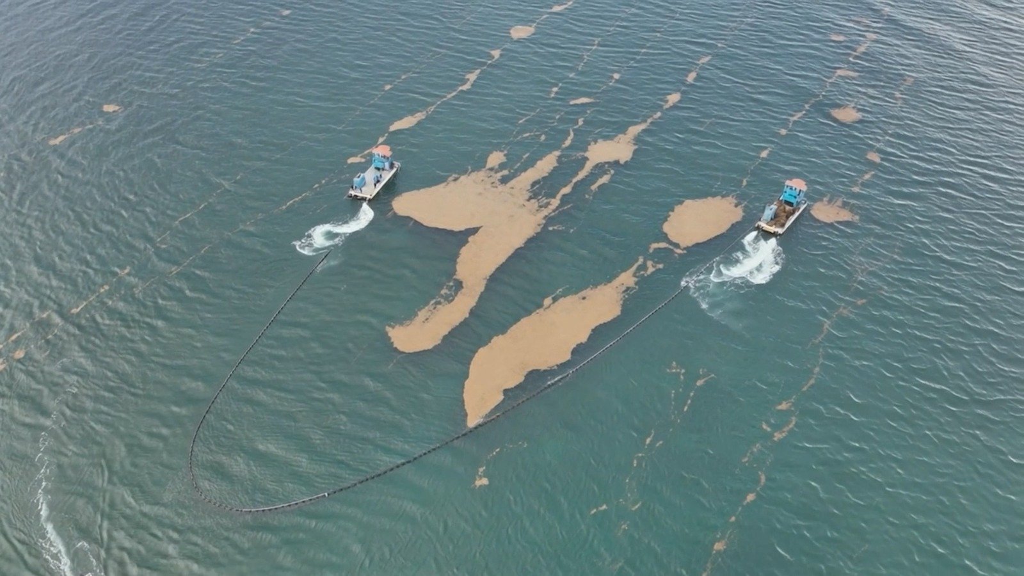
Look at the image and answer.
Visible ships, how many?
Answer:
two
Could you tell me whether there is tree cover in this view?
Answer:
No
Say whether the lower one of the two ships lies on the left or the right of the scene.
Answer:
right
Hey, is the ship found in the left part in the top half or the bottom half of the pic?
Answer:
top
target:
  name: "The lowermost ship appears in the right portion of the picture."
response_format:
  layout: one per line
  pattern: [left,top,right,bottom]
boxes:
[756,185,808,238]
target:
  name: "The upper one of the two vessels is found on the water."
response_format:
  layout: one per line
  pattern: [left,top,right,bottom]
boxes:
[350,150,399,202]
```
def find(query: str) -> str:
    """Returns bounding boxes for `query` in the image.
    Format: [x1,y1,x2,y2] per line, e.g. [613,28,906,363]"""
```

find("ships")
[350,150,399,202]
[756,185,808,238]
